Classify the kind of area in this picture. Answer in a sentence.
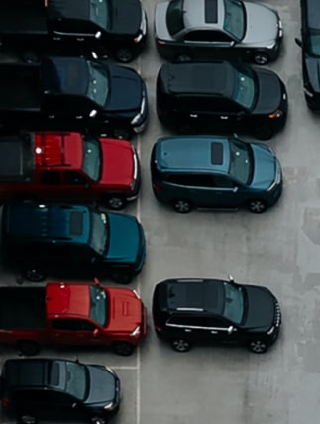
This looks like a parking lot.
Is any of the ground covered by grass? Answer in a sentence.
No, the scene doesn't show any grass.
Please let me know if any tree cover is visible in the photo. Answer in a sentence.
No, there is no tree cover in the image.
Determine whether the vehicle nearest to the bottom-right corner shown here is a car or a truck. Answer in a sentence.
The vehicle nearest to the bottom-right corner appears to be a car.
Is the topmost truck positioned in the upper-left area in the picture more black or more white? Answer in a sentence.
In this view, the topmost truck positioned in the upper-left area is black.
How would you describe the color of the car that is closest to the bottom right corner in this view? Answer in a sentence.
The car that is closest to the bottom right corner looks black in the image.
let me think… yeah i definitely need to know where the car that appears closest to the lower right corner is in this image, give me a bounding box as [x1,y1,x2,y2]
[152,276,282,353]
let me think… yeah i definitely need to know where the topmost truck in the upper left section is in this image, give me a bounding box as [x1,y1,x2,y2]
[0,0,146,63]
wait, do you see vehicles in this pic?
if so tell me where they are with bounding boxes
[155,62,289,139]
[0,0,146,63]
[0,55,147,136]
[0,276,146,355]
[0,354,121,424]
[0,127,140,208]
[154,0,284,65]
[150,134,283,214]
[152,276,282,353]
[0,202,145,283]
